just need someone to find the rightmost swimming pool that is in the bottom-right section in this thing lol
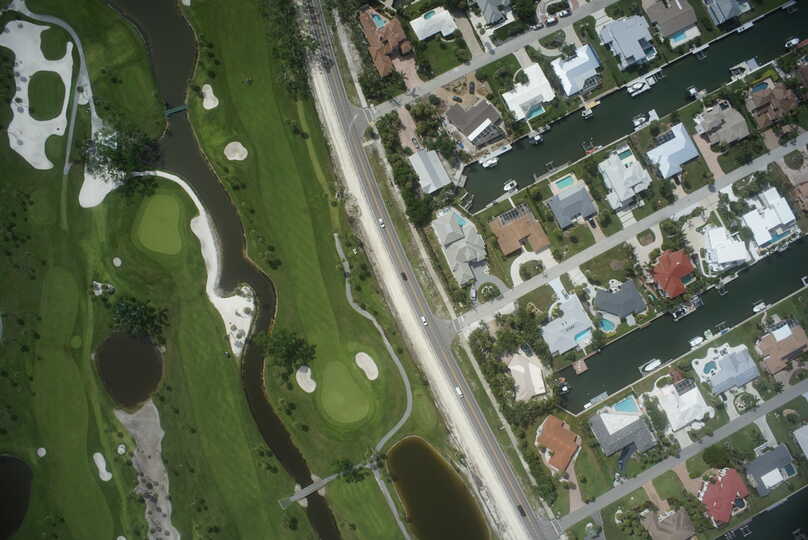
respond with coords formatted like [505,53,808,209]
[783,462,798,479]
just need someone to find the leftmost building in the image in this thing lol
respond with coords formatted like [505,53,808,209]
[362,8,412,77]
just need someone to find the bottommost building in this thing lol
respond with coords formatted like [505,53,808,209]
[641,508,697,540]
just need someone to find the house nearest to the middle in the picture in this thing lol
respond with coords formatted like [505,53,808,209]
[432,212,488,287]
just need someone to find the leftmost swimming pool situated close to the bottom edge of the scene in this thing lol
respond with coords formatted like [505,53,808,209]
[732,497,748,513]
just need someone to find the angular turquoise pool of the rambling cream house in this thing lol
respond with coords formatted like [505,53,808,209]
[441,206,474,231]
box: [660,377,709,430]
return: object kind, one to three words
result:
house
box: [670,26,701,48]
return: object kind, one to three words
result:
swimming pool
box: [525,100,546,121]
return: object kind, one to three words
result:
swimming pool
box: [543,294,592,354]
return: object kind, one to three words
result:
house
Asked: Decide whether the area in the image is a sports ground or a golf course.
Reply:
golf course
